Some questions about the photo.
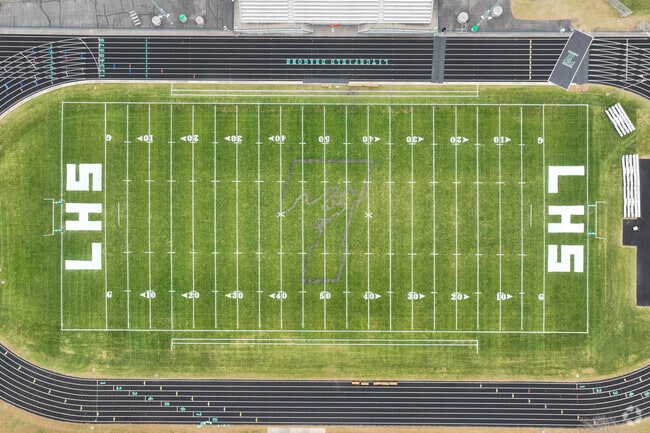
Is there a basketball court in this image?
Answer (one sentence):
No, the scene contains no basketball court.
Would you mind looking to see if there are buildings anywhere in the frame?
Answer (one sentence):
No, no building is visible in the scene.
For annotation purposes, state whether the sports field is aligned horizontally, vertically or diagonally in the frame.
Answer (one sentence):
The sports field has been laid out horizontally relative to the frame.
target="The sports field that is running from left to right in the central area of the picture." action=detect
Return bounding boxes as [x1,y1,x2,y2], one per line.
[61,83,588,354]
